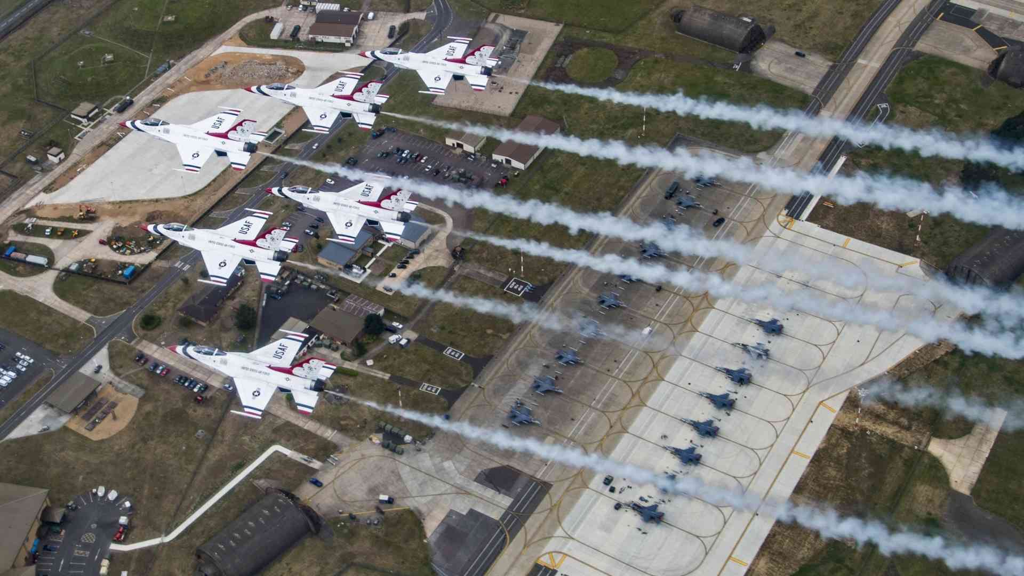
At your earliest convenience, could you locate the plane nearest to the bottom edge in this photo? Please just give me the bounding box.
[626,503,666,526]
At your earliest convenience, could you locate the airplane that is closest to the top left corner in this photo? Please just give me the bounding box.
[118,107,267,174]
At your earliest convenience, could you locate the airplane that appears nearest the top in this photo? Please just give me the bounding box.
[358,37,498,96]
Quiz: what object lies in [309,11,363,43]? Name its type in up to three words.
building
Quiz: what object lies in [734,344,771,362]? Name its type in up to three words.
airplane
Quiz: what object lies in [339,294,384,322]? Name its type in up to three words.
building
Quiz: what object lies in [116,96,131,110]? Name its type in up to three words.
vehicle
